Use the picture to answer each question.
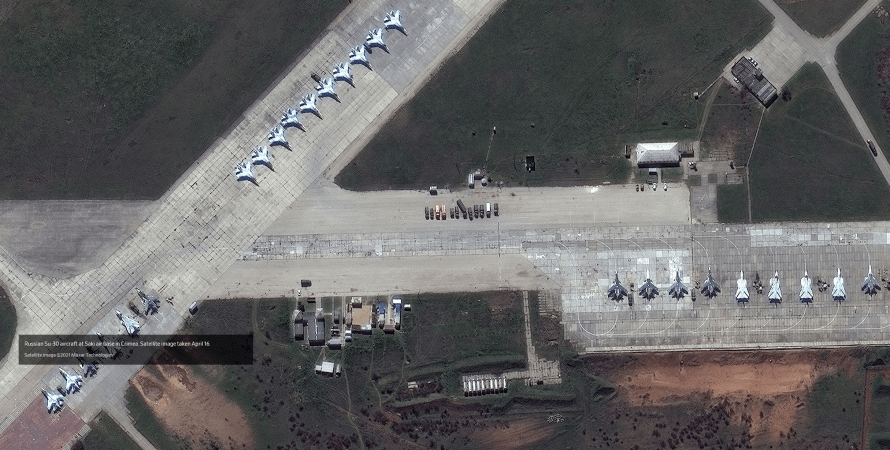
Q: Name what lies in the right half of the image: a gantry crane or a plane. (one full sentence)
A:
Looking in the right half of the image, you will find a plane.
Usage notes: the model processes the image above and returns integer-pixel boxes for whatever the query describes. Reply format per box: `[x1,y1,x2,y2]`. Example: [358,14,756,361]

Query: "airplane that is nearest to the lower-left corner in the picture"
[42,389,66,414]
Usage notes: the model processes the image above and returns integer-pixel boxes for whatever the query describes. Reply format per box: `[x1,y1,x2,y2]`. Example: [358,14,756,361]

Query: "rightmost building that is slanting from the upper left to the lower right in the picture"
[731,58,776,103]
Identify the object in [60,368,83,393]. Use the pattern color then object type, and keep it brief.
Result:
white airplane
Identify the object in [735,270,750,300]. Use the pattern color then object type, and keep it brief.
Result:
white airplane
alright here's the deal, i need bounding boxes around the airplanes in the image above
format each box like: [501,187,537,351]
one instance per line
[608,271,627,299]
[668,270,688,297]
[382,7,407,31]
[735,270,750,300]
[860,265,880,292]
[77,351,101,375]
[701,268,720,294]
[767,271,782,301]
[60,368,83,393]
[832,268,847,297]
[315,74,340,98]
[116,308,140,334]
[297,90,322,114]
[800,272,814,300]
[365,25,389,49]
[347,42,371,65]
[42,389,66,414]
[331,59,354,83]
[281,103,305,128]
[234,157,258,182]
[639,270,658,297]
[268,122,291,146]
[249,142,275,168]
[136,288,160,312]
